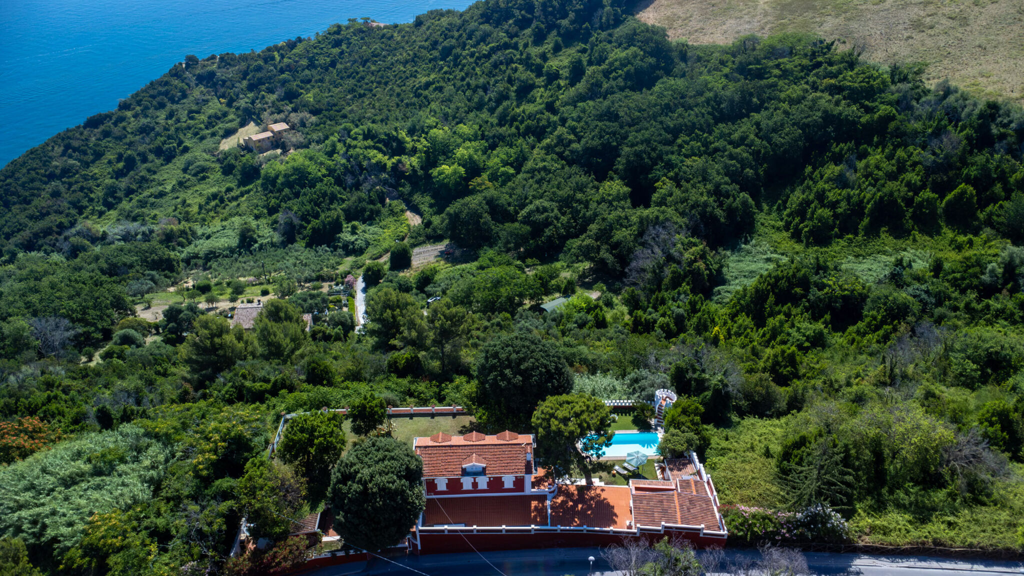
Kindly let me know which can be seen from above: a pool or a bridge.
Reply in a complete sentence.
Visible in the photo is a pool.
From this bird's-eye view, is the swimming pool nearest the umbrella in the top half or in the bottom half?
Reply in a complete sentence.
It is in the bottom half that the swimming pool nearest the umbrella appears.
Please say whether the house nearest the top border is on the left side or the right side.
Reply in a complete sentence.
The house nearest the top border is on the left side of the image.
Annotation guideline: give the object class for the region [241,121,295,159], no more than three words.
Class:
house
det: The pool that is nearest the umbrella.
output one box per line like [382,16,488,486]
[588,429,665,459]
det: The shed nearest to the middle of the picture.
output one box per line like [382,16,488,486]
[542,293,574,315]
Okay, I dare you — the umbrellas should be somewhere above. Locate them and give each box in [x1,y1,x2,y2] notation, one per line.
[625,451,647,479]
